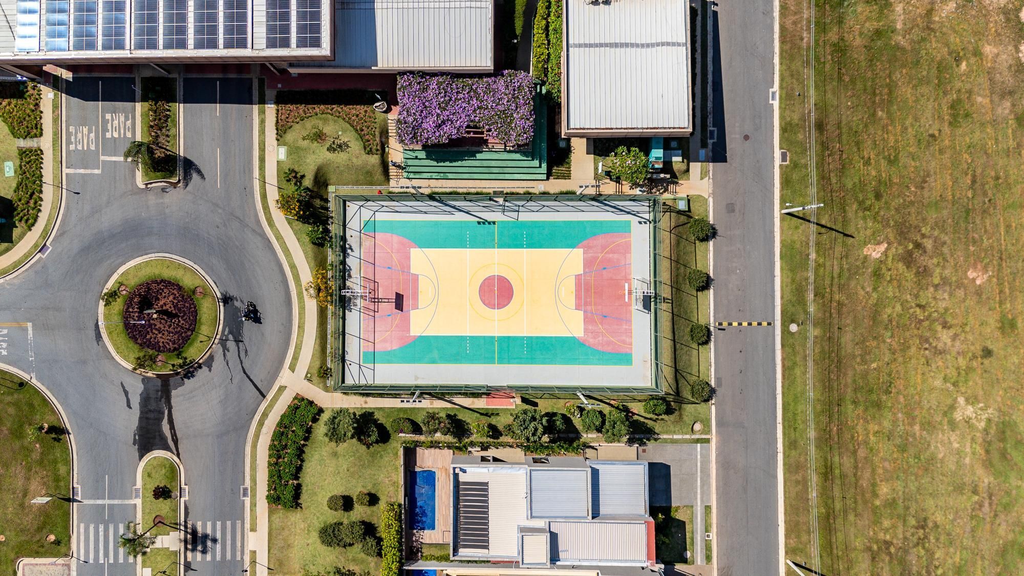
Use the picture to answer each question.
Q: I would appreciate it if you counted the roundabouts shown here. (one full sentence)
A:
Just 1 roundabout appears in this view.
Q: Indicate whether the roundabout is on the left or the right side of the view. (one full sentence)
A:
The roundabout appears in the left half of the scene.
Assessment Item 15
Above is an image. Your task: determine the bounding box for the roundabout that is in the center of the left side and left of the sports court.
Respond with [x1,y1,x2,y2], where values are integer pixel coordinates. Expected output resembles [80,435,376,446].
[99,253,224,378]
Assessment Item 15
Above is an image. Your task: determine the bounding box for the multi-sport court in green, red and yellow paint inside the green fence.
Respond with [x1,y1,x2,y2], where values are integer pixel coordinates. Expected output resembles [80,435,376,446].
[345,201,652,386]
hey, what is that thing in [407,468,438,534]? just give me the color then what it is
blue swimming pool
